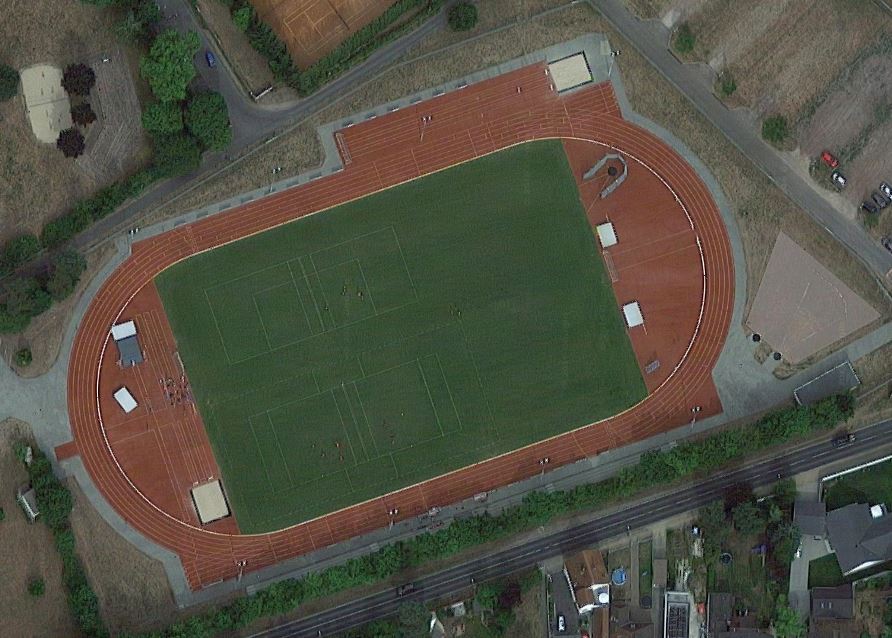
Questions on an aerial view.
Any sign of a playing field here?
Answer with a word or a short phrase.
Yes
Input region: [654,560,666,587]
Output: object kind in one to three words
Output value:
shed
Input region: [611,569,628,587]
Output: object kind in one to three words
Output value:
swimming pool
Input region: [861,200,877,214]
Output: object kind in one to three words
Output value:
vehicle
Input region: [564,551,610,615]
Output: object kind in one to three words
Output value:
house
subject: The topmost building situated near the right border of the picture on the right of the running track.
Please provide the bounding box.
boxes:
[794,362,860,414]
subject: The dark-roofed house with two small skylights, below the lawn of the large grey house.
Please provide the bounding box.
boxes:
[813,586,853,638]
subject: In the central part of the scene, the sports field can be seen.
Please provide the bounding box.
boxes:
[142,139,647,533]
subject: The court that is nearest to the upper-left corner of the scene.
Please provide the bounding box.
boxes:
[21,65,71,143]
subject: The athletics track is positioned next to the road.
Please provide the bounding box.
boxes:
[54,60,734,592]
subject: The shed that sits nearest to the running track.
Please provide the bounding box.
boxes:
[18,485,38,519]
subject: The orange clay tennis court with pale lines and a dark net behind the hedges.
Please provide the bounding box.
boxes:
[253,0,413,71]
